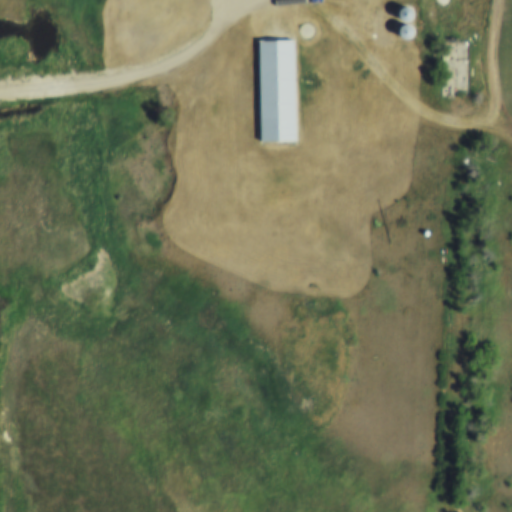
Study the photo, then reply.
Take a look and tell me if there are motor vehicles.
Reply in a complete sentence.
No, no motor vehicle is visible in the view.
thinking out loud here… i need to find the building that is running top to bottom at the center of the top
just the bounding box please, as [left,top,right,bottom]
[258,39,298,141]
